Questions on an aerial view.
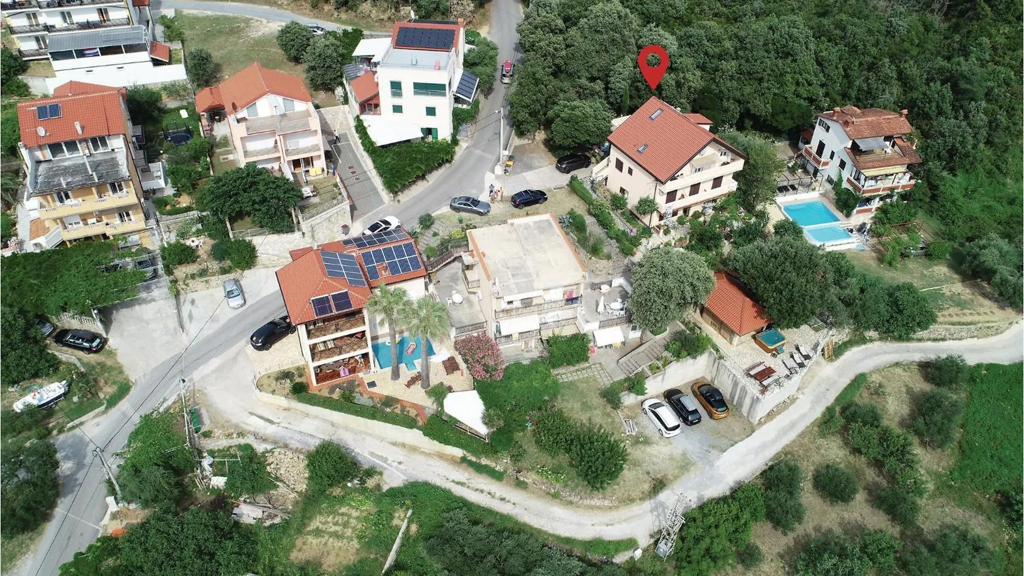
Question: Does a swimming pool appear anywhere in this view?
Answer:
Yes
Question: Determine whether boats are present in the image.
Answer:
Yes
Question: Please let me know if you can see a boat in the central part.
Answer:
No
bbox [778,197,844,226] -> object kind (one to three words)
swimming pool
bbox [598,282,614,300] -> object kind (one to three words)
umbrella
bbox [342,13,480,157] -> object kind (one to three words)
house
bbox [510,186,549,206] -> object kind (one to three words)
car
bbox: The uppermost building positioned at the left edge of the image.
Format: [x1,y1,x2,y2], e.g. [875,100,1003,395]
[0,0,195,97]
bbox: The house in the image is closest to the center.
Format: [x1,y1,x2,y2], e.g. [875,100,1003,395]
[447,205,589,355]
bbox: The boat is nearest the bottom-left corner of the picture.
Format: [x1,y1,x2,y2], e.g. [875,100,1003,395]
[4,373,72,416]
